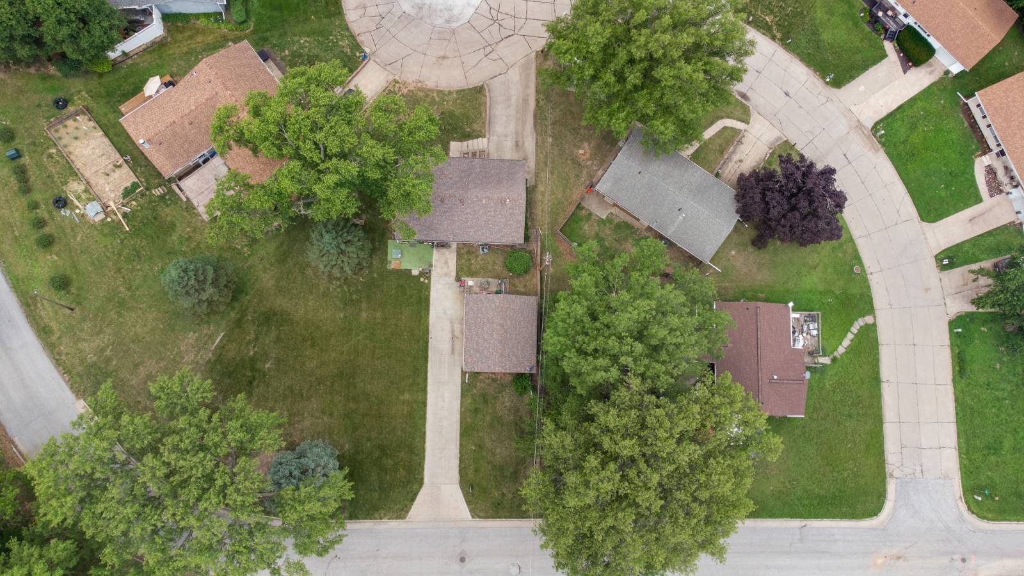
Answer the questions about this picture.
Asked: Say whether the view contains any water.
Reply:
No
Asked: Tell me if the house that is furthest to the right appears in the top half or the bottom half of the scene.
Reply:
top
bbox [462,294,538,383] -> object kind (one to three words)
building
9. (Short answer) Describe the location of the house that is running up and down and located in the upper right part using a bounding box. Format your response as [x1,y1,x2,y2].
[957,70,1024,234]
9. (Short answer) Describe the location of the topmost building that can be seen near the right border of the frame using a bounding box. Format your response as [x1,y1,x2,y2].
[872,0,1023,76]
